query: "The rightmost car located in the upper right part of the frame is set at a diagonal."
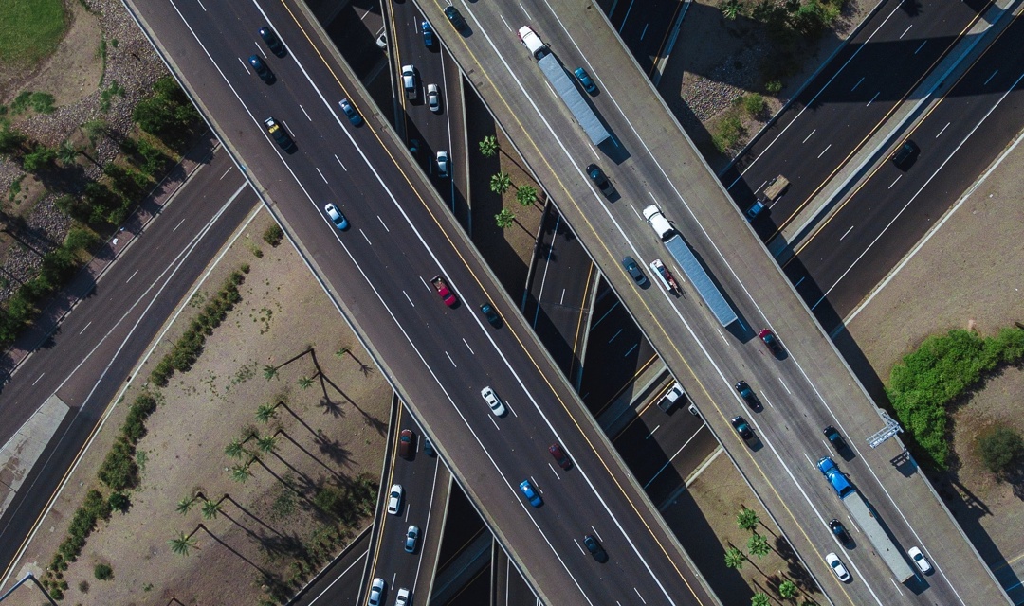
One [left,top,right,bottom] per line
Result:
[888,136,916,164]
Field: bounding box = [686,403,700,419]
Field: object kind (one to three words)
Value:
car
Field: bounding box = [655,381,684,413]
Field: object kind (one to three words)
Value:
truck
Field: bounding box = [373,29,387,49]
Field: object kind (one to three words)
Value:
car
